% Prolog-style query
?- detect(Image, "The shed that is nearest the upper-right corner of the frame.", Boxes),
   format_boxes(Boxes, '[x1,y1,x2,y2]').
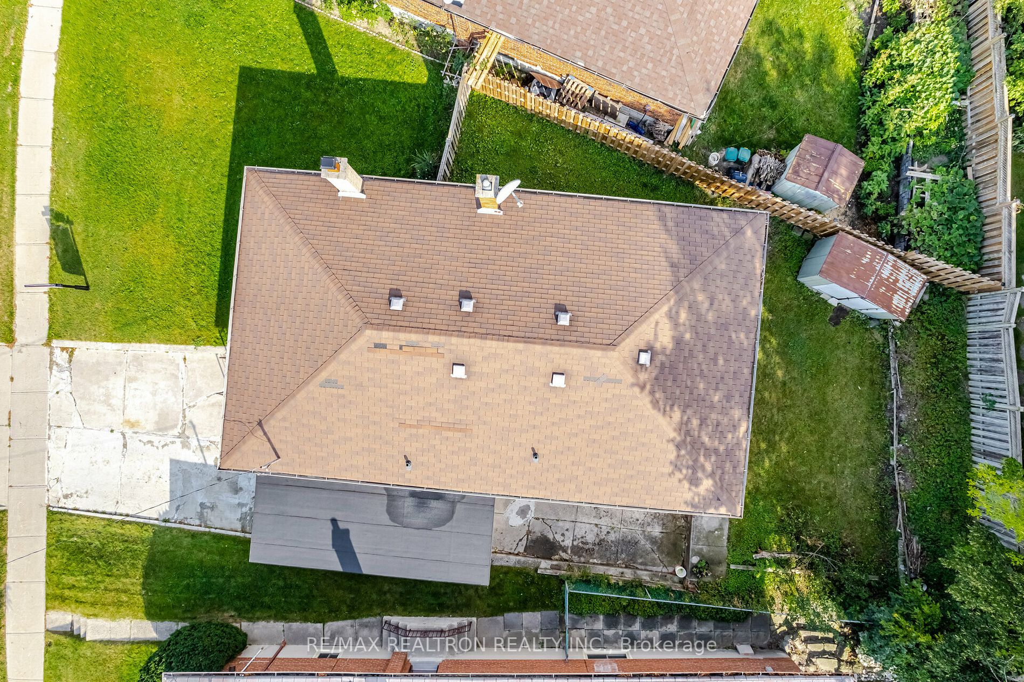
[774,134,863,215]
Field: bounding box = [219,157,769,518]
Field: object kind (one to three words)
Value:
house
